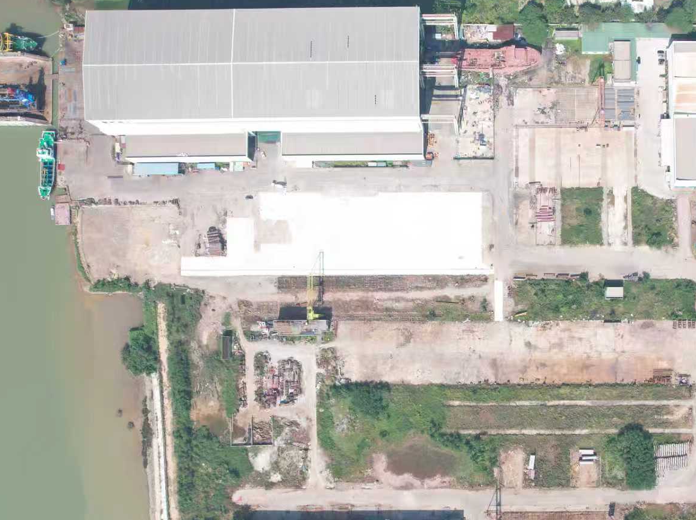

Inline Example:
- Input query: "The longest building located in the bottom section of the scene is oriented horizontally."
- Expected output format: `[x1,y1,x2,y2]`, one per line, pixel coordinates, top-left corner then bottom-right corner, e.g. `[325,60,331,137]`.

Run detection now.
[273,320,331,335]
